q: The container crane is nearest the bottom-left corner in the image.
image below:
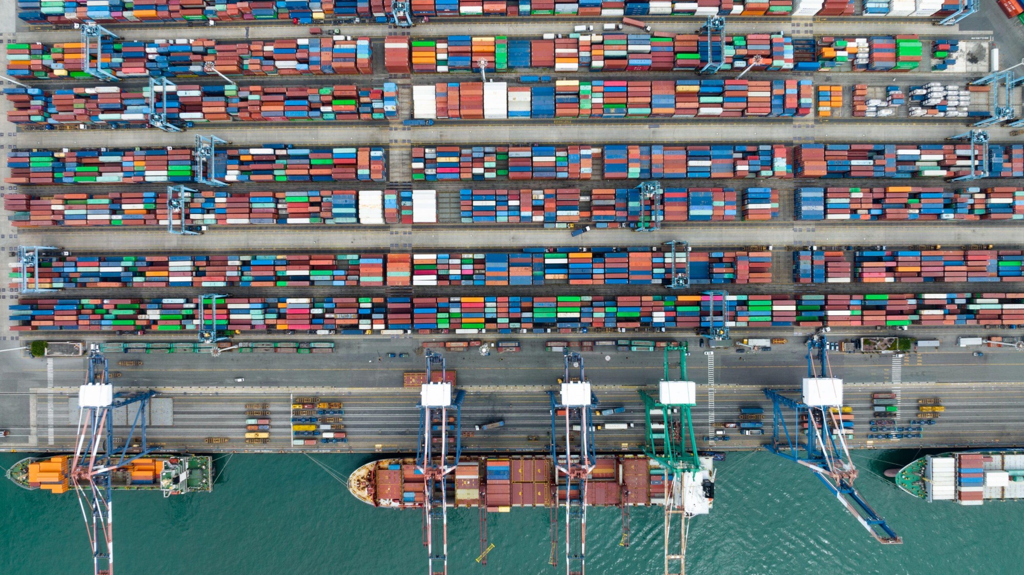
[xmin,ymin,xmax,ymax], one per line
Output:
[67,351,159,575]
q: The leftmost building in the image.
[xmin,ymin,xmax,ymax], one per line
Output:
[45,342,87,356]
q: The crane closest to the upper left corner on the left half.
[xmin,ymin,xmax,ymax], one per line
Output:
[83,23,128,82]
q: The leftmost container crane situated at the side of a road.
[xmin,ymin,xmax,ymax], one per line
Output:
[20,245,68,293]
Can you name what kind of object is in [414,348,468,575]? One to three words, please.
container crane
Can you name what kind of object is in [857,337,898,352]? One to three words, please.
building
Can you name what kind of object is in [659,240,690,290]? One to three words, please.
container crane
